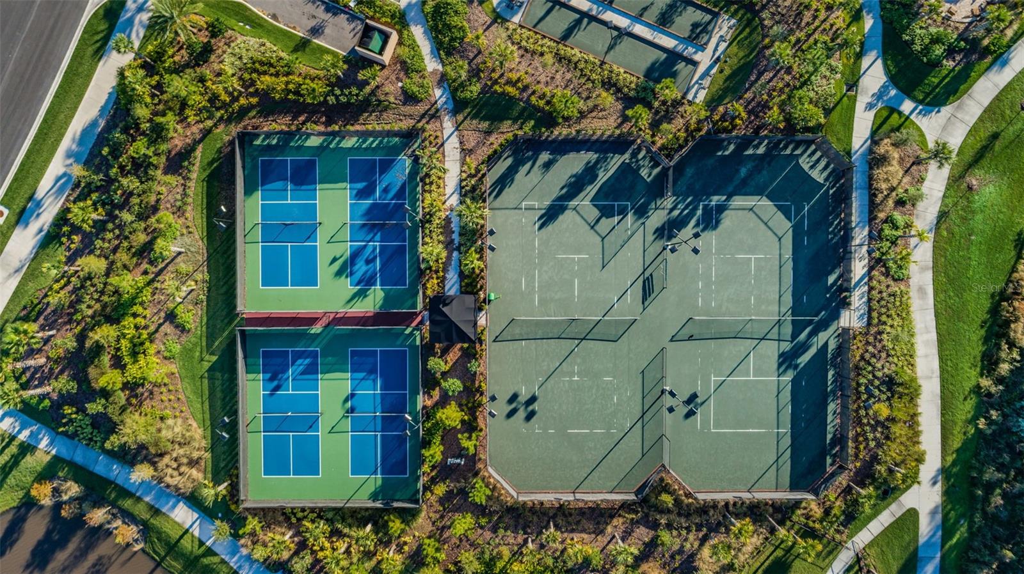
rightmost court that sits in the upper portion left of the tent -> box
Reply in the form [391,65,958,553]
[333,139,420,311]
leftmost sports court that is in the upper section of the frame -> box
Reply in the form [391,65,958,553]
[244,139,334,311]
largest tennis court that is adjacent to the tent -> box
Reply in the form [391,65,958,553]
[489,141,665,493]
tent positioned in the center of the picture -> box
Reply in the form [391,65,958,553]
[430,295,477,342]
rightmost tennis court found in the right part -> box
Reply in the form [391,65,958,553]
[664,142,840,492]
